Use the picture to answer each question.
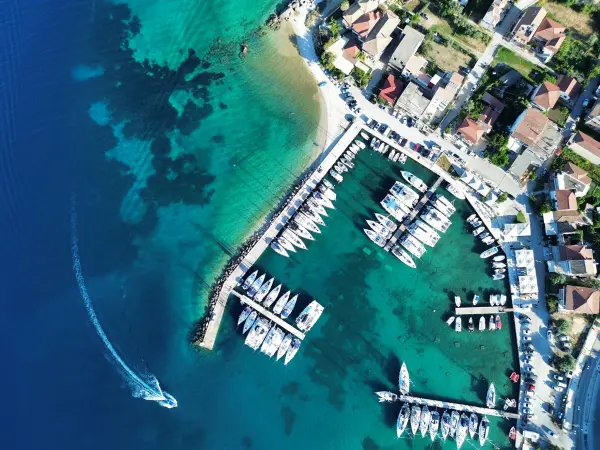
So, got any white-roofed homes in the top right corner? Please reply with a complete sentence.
Yes, you'll find a white-roofed home in the top right corner.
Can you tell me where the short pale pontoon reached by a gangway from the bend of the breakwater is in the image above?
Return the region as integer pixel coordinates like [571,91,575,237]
[231,288,305,339]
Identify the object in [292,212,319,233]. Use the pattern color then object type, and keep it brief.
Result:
white boat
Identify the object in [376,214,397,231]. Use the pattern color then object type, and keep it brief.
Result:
white boat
